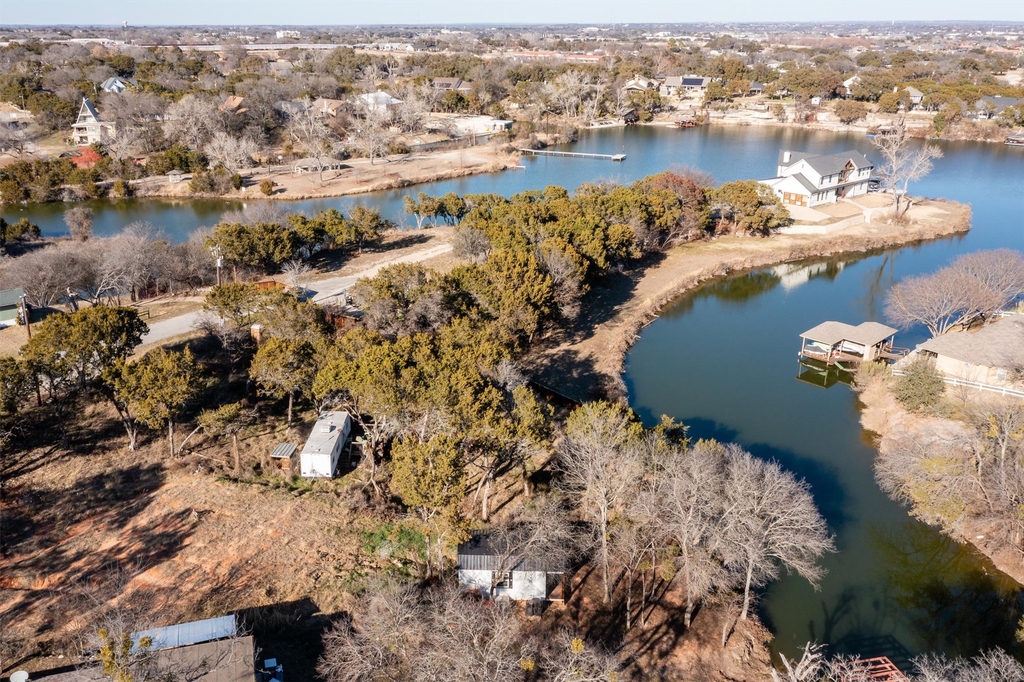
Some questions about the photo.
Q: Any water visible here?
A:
Yes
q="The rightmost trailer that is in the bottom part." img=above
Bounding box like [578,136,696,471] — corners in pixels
[301,411,351,488]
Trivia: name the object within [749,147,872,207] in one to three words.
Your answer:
house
